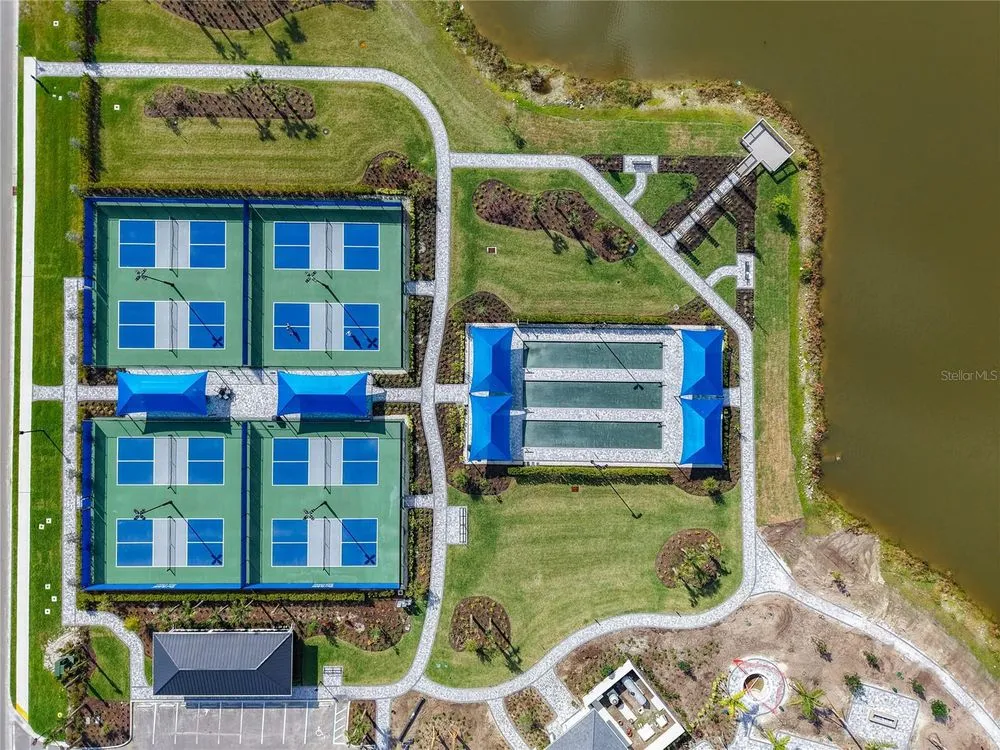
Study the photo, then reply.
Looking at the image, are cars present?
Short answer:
No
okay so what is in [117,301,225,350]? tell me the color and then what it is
blue sports court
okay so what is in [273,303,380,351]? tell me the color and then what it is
blue sports court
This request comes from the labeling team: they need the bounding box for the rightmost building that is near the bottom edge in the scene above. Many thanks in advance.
[541,705,631,750]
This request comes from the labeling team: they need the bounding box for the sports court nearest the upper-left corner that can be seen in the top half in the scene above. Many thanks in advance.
[118,219,226,269]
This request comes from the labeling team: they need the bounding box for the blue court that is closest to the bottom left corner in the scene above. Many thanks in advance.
[116,519,224,567]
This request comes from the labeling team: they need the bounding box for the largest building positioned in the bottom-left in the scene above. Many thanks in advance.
[152,628,297,696]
